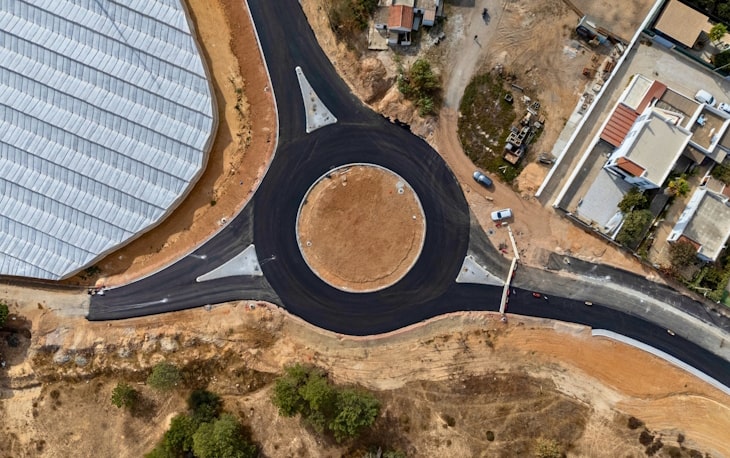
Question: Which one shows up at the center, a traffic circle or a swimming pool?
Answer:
traffic circle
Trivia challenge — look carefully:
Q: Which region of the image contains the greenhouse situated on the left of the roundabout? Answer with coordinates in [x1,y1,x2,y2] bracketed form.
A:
[0,0,217,280]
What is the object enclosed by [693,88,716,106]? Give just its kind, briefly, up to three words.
vehicle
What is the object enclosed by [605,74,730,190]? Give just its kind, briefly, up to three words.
house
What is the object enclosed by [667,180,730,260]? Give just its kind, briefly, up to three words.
house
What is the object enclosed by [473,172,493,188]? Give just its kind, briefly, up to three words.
car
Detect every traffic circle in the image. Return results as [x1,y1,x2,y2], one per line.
[253,121,469,337]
